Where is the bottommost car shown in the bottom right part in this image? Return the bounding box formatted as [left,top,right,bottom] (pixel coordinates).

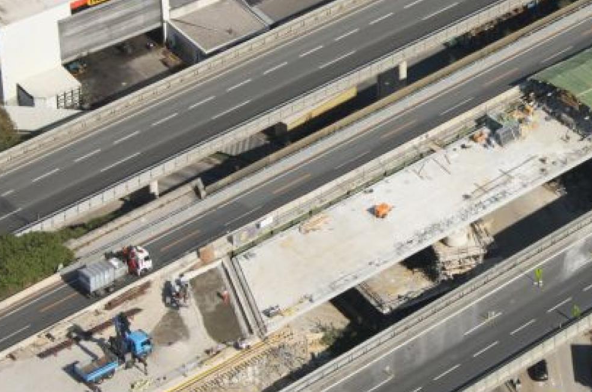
[531,362,550,382]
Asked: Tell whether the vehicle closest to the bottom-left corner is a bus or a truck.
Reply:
truck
